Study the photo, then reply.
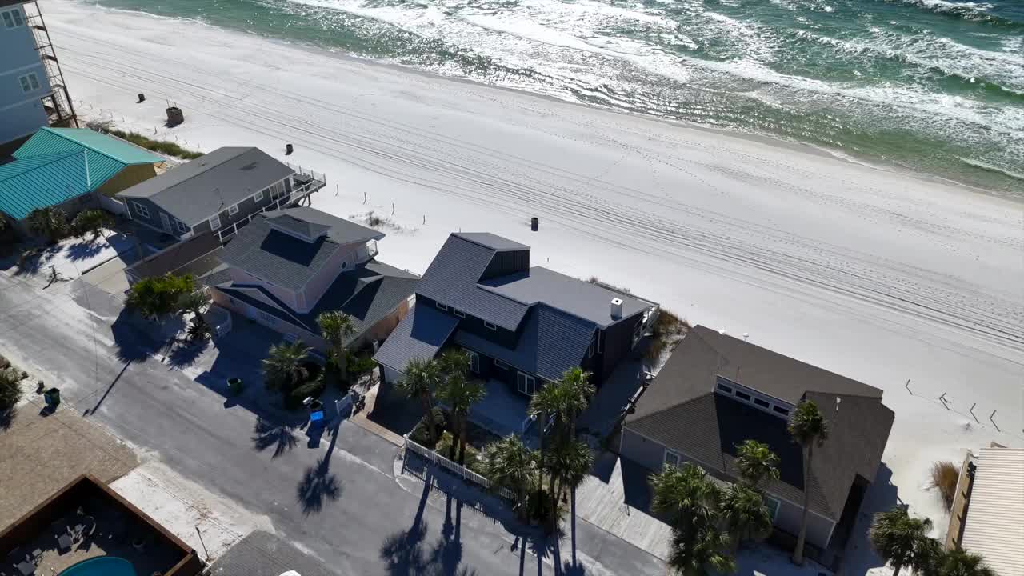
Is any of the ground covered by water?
Yes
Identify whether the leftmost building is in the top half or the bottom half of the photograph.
top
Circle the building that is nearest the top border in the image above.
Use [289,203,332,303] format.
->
[0,0,80,145]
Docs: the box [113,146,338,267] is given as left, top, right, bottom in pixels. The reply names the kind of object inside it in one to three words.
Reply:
house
